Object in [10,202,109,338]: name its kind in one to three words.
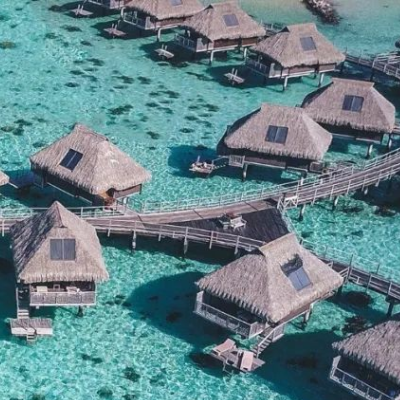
house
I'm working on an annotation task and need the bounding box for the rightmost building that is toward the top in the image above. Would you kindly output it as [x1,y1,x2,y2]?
[302,78,395,152]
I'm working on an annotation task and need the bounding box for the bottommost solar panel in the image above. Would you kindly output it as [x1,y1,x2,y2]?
[284,264,310,293]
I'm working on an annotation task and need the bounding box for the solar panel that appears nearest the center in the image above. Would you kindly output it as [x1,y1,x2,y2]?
[264,124,288,144]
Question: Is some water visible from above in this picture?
Yes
